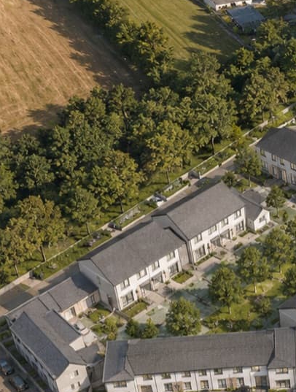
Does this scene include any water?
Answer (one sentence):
No, there is no water in the image.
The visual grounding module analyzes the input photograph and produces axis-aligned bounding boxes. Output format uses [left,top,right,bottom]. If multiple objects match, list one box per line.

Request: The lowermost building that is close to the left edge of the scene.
[8,309,102,392]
